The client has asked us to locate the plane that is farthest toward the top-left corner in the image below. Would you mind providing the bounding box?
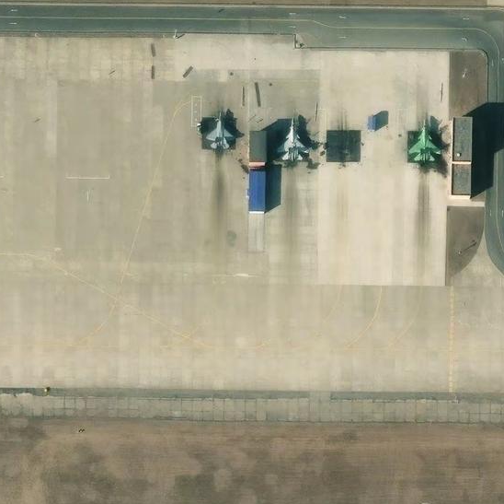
[205,110,235,152]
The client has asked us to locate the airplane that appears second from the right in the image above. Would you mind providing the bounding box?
[278,119,310,161]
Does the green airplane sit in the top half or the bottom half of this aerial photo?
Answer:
top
